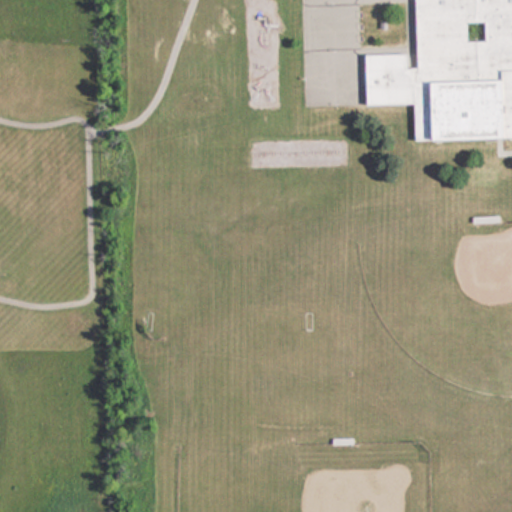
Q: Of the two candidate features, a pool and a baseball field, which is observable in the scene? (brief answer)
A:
baseball field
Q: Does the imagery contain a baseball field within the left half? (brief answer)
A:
No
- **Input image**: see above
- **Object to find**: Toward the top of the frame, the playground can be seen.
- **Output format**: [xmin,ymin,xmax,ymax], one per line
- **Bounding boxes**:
[244,0,286,108]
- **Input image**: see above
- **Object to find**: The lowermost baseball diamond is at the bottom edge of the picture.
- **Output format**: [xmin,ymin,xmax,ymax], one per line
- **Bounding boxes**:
[302,464,412,512]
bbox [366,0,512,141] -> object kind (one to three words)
building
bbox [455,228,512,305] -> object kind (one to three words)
baseball field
